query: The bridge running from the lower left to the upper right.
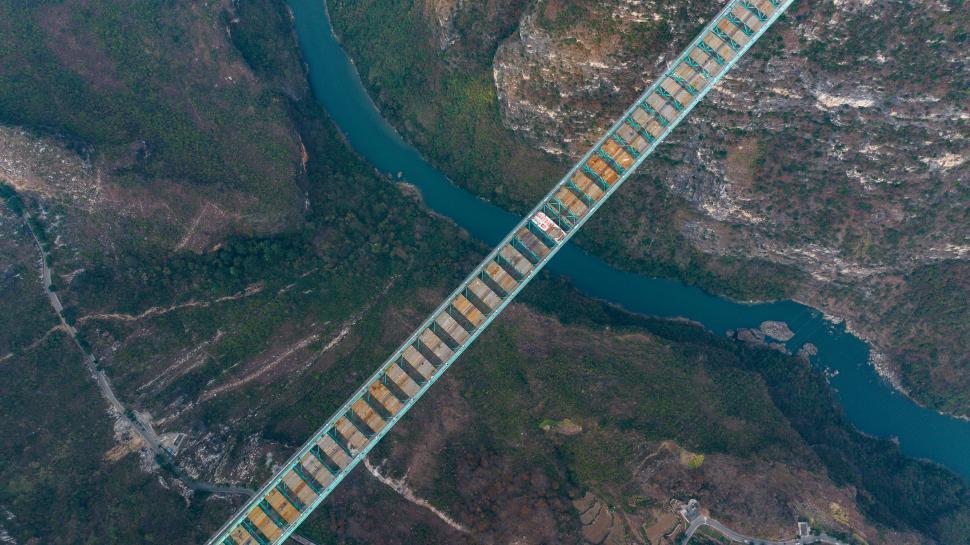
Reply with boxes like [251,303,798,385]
[203,0,795,545]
